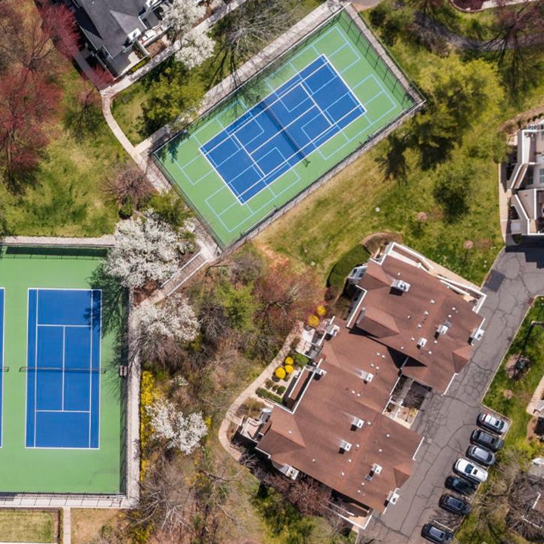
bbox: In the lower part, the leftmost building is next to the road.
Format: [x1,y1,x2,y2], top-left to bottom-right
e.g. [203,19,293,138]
[234,242,487,531]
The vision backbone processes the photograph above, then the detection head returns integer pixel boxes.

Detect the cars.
[452,458,489,483]
[468,428,504,453]
[442,473,478,499]
[474,411,511,435]
[419,522,455,544]
[462,442,496,468]
[435,492,472,517]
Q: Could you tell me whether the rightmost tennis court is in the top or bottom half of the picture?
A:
top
